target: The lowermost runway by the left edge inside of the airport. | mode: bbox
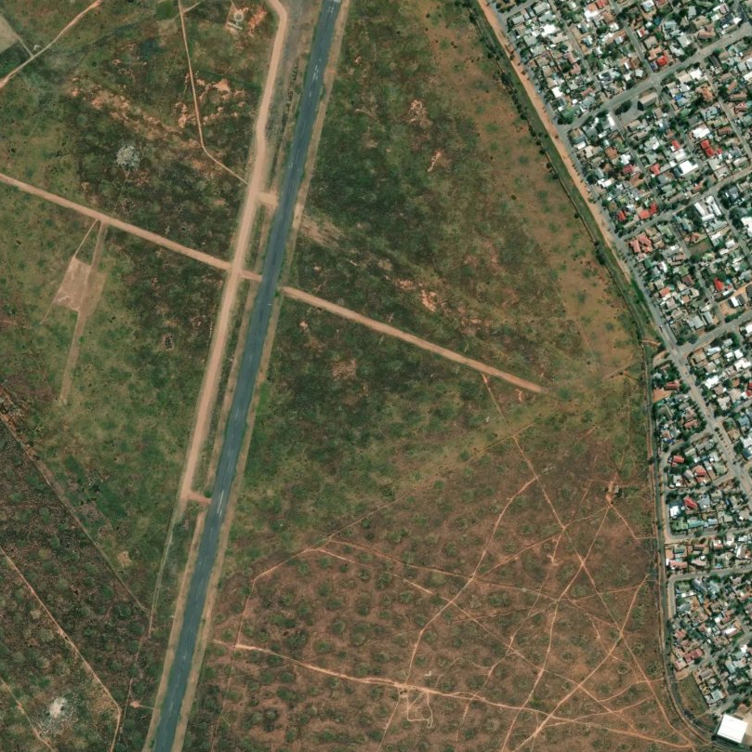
[10,177,231,272]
